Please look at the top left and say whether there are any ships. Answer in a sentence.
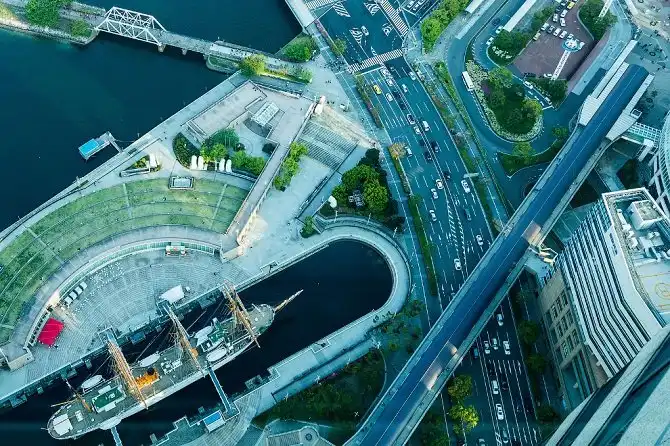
No, the scene shows no ship at the top left.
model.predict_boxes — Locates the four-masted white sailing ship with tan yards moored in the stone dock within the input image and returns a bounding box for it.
[27,267,302,441]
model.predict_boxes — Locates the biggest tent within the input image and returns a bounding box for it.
[38,318,66,347]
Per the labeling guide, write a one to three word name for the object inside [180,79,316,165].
building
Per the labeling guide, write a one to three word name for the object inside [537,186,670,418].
building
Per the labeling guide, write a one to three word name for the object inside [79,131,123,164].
pier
